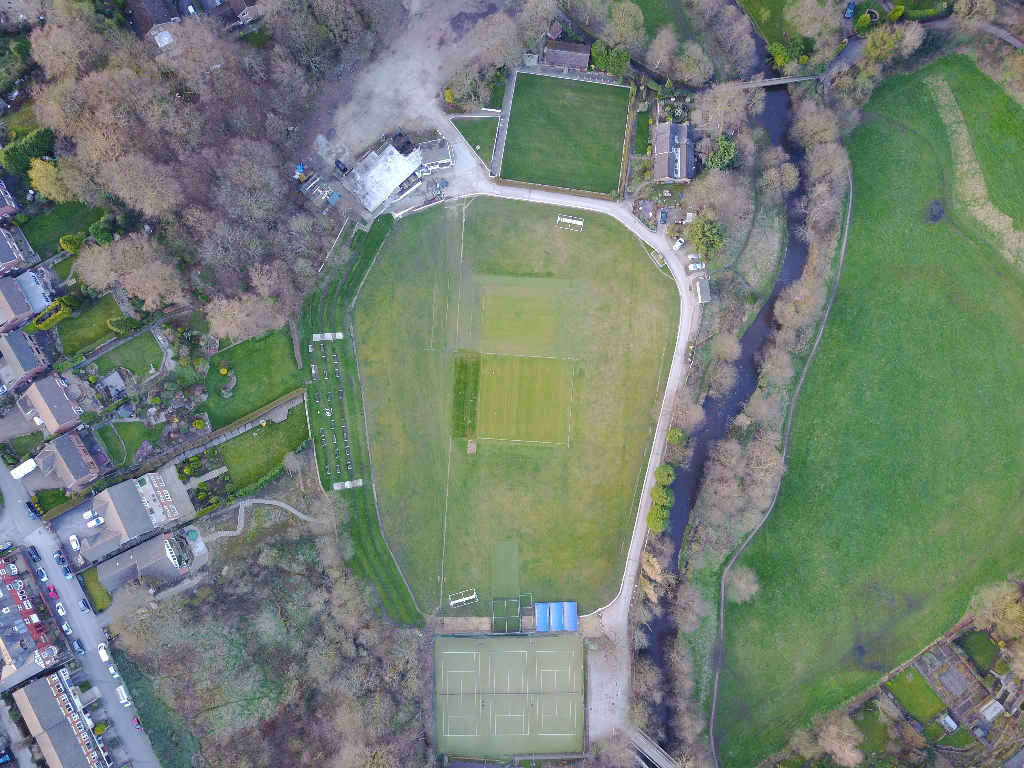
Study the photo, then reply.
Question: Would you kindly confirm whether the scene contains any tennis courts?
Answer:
Yes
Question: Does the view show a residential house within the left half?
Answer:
Yes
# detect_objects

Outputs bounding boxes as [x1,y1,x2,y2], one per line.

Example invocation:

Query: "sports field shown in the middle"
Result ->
[353,194,681,633]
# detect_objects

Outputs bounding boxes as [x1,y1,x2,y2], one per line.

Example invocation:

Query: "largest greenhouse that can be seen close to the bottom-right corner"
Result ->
[975,694,1003,720]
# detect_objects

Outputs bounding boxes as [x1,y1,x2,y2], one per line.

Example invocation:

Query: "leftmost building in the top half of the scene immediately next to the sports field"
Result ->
[342,142,424,215]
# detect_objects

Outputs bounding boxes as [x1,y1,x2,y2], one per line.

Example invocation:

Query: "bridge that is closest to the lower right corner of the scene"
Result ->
[625,729,680,768]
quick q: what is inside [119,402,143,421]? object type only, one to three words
gazebo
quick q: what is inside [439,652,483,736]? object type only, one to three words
tennis court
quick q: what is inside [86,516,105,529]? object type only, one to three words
vehicle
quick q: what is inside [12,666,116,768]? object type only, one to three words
house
